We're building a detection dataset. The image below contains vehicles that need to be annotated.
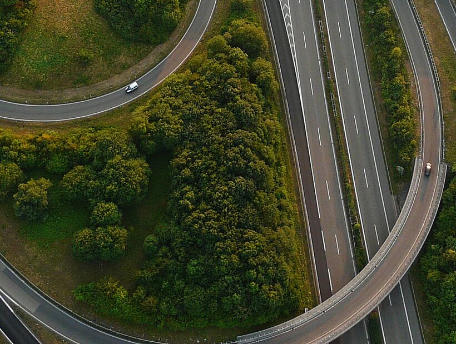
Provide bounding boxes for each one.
[423,163,431,176]
[125,80,139,92]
